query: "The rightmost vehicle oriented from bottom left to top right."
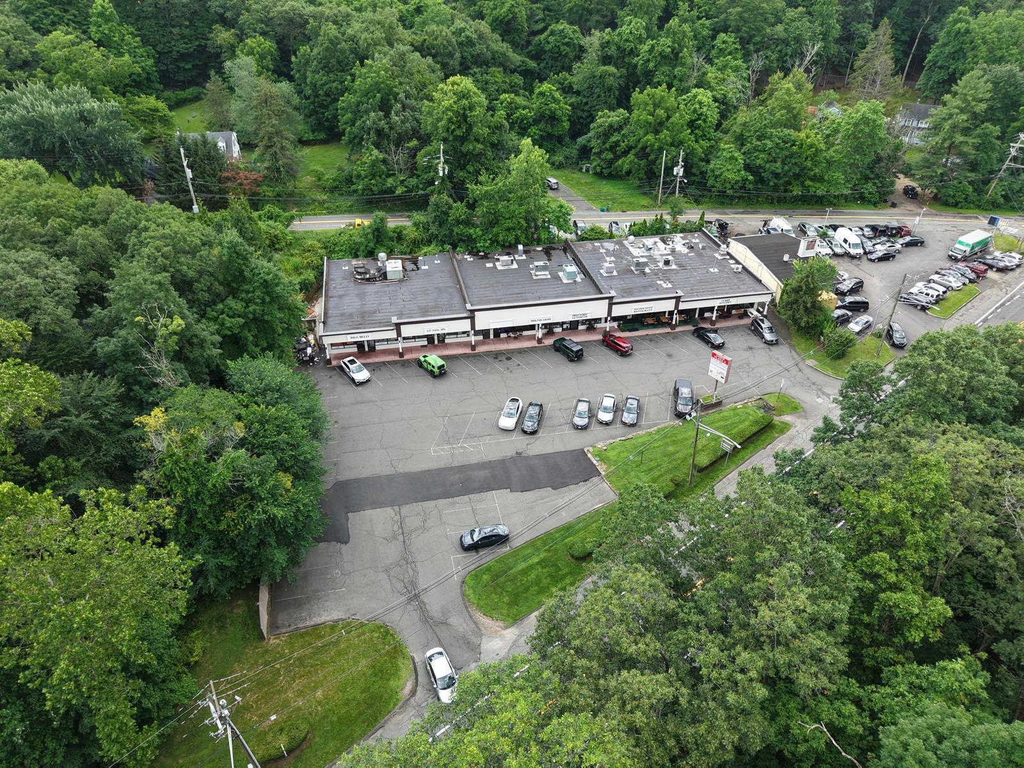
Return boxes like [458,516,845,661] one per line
[954,223,1002,259]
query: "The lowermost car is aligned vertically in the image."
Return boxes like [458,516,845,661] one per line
[423,642,461,708]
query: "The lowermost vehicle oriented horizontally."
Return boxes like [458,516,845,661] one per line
[456,522,514,553]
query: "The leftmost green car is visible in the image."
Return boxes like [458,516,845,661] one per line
[414,352,450,378]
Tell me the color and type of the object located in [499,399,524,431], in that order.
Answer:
white car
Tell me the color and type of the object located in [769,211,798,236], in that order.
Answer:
white truck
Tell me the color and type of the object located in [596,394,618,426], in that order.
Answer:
white car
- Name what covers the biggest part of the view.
trees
